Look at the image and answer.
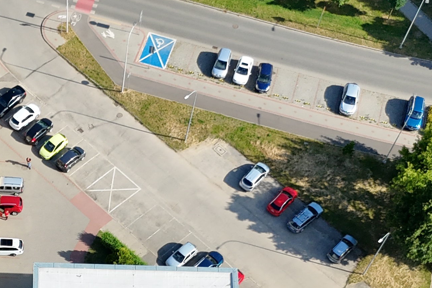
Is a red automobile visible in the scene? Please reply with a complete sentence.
Yes, a red automobile is visible in the scene.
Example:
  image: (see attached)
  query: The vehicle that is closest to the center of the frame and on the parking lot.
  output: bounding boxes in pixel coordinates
[238,163,271,195]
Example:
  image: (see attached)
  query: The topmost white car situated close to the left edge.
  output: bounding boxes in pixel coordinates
[6,104,40,134]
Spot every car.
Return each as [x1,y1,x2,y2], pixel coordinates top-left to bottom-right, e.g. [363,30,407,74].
[52,144,88,177]
[0,85,28,120]
[402,94,427,131]
[163,236,200,267]
[339,80,363,118]
[232,53,256,89]
[0,237,24,258]
[21,118,55,148]
[37,130,71,163]
[0,195,23,216]
[197,252,227,268]
[0,174,23,195]
[253,61,274,95]
[238,163,271,195]
[285,202,324,236]
[263,185,301,219]
[211,47,233,79]
[6,104,40,134]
